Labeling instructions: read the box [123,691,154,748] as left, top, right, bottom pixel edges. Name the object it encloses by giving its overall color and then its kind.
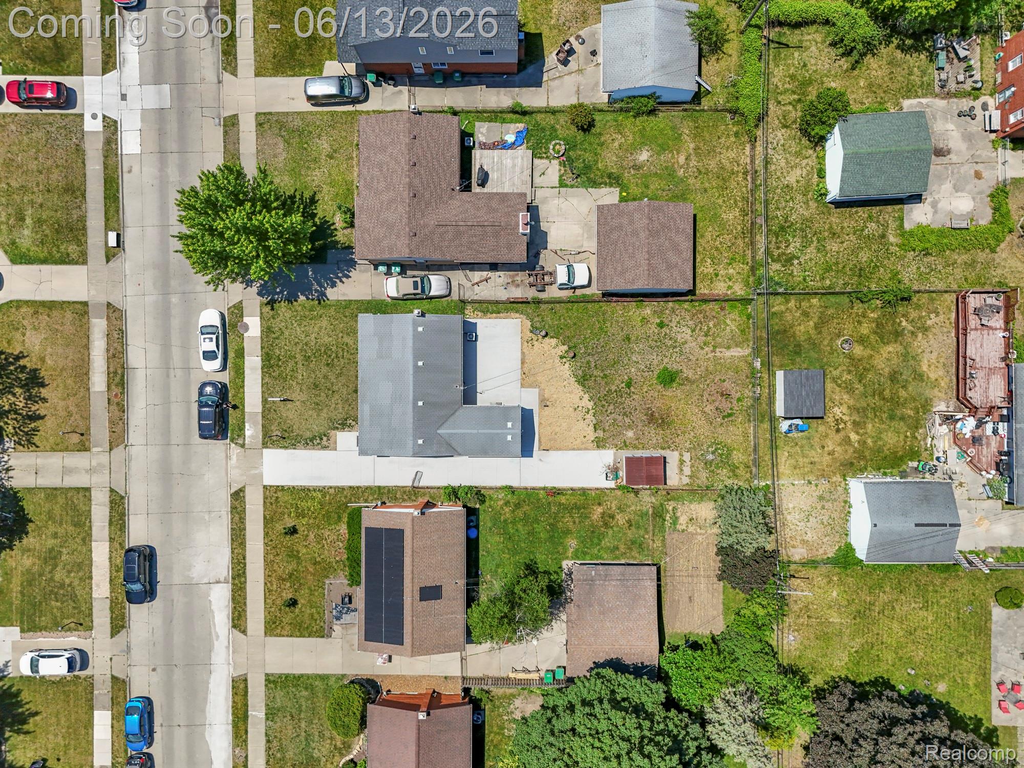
blue car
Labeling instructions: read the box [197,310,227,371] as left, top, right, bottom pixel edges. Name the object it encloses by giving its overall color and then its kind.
white car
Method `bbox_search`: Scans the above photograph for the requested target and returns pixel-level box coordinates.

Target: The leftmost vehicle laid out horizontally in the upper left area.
[8,77,72,109]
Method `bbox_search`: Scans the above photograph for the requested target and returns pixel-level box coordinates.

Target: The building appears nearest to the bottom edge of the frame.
[367,683,472,768]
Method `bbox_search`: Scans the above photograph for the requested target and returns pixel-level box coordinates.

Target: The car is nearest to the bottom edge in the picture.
[127,747,155,768]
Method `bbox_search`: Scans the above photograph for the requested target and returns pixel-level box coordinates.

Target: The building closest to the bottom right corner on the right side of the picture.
[848,478,961,564]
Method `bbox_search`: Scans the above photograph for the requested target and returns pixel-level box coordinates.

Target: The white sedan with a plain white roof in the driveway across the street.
[22,647,84,677]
